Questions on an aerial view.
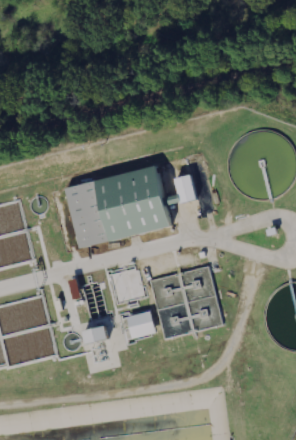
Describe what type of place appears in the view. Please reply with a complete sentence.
It's an industrial area.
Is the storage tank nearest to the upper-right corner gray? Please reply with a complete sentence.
No, the storage tank nearest to the upper-right corner is actually green.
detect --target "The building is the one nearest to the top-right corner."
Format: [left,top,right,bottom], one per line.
[174,174,198,204]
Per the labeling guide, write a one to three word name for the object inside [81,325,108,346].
building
